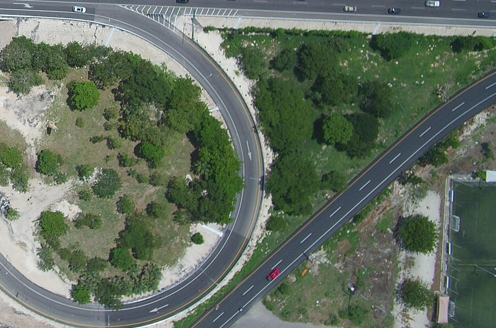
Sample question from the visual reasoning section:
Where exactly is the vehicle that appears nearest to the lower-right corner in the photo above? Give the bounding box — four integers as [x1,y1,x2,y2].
[266,267,280,281]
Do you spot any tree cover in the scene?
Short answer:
Yes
